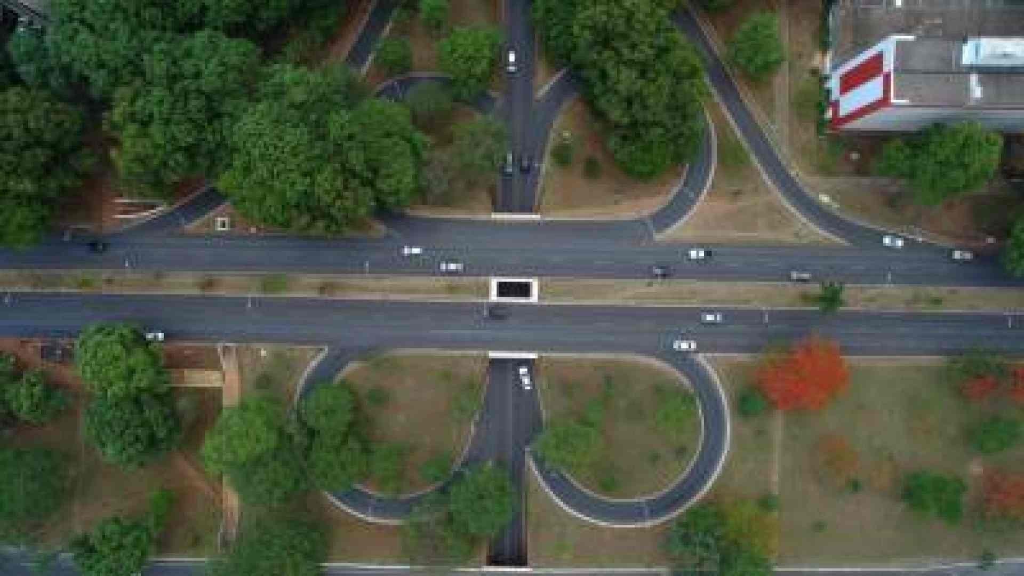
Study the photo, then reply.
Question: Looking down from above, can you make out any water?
No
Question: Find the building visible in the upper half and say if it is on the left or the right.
right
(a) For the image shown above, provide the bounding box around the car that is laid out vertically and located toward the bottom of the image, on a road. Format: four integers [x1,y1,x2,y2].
[519,368,532,389]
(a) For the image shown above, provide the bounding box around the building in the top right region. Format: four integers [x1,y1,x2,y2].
[836,37,1024,130]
